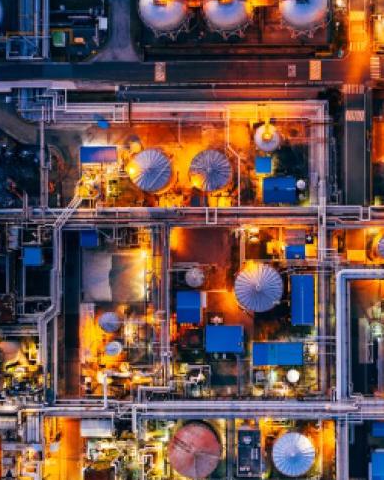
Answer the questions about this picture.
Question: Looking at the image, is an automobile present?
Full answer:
No, there is no automobile in the image.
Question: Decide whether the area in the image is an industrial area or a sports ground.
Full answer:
It's an industrial area.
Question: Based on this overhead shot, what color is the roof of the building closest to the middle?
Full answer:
From above, the roof of the building closest to the middle looks blue.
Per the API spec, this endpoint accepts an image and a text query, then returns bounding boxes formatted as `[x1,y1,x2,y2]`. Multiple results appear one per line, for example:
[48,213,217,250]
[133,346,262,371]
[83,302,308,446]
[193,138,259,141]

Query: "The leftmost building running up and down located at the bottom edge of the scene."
[238,427,260,478]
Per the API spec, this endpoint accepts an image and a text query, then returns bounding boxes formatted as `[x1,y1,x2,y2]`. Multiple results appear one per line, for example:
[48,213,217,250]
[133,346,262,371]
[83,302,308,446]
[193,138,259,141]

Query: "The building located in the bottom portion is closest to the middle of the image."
[176,290,200,324]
